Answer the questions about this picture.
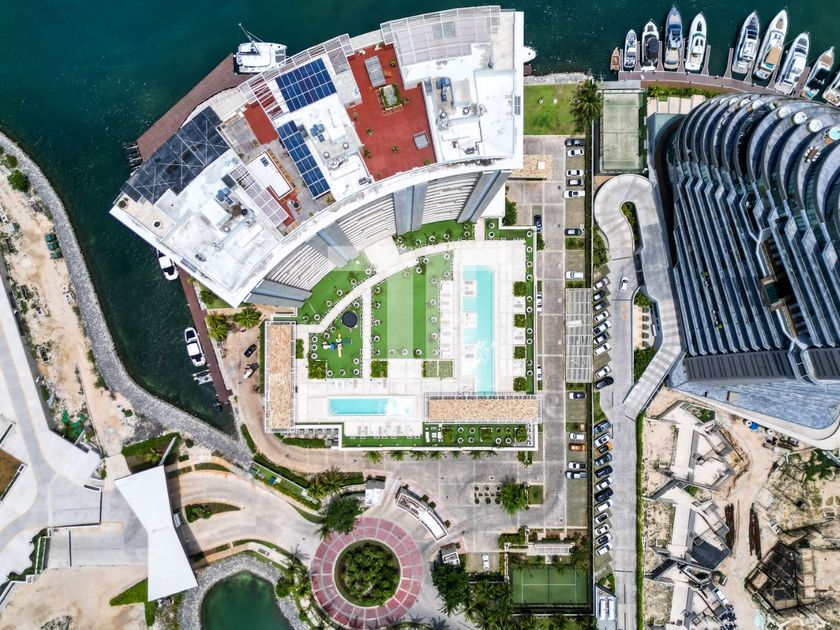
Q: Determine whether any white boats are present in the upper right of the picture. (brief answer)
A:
Yes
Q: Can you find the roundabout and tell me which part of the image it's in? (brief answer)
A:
bottom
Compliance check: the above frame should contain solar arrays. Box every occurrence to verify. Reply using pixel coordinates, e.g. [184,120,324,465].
[276,58,339,114]
[276,121,332,202]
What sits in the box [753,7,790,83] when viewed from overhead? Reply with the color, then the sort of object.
white boat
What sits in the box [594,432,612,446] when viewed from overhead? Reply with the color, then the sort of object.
white vehicle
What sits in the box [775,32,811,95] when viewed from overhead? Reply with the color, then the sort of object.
white boat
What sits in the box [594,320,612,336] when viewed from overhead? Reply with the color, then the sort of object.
white vehicle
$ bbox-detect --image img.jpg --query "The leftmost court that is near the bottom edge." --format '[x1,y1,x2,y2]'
[512,565,590,611]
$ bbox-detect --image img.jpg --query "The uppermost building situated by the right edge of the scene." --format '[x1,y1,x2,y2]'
[656,91,840,357]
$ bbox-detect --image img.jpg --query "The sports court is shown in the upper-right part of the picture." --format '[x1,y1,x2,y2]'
[604,87,646,171]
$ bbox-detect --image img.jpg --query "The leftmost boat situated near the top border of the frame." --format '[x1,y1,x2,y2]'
[238,23,287,73]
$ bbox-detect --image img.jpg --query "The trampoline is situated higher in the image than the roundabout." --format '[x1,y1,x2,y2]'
[340,311,357,327]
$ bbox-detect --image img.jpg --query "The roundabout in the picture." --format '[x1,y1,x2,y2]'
[310,516,424,630]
